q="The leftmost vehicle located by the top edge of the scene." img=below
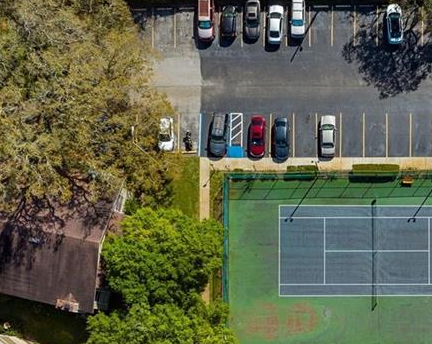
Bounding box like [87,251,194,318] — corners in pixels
[196,0,216,43]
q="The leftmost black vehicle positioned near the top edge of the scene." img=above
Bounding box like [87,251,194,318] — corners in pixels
[219,4,237,42]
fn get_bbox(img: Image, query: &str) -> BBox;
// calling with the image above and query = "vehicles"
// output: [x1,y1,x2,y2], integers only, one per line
[266,5,284,46]
[385,3,402,46]
[288,0,307,40]
[248,116,267,158]
[208,112,228,158]
[156,117,175,153]
[318,115,337,158]
[219,4,237,42]
[196,0,216,43]
[242,0,261,41]
[271,117,290,161]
